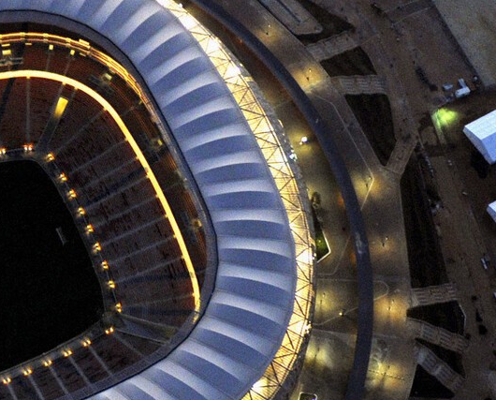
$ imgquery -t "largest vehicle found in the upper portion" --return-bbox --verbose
[456,80,469,97]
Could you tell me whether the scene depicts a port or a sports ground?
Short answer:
sports ground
